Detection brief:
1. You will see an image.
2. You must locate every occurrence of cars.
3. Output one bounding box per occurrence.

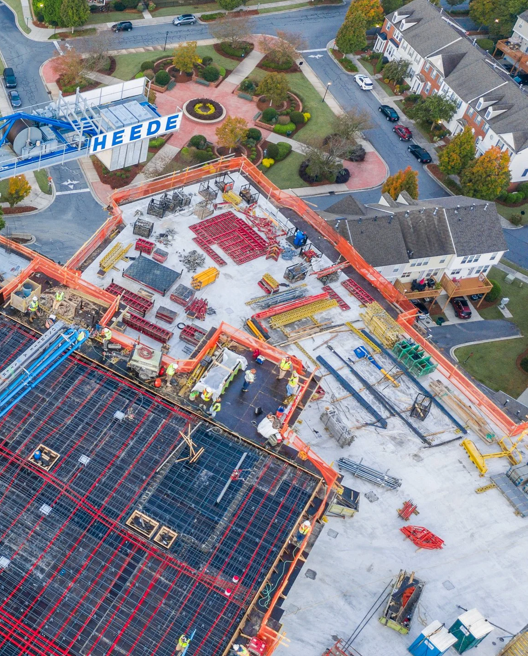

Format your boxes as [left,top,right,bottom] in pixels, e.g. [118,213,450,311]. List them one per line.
[375,106,403,122]
[447,293,477,322]
[351,75,377,91]
[173,15,197,28]
[9,91,22,102]
[400,298,436,325]
[388,124,417,143]
[4,68,16,86]
[405,146,434,164]
[111,21,134,34]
